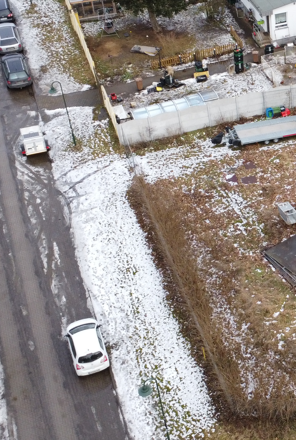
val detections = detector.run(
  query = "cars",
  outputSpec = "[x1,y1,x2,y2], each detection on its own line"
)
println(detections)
[0,0,16,21]
[0,20,24,55]
[60,312,110,376]
[0,50,34,90]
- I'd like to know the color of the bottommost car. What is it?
white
